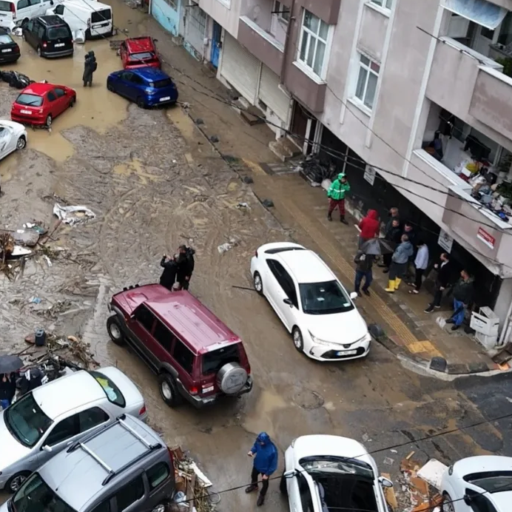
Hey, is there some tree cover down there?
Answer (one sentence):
No, no tree cover is visible.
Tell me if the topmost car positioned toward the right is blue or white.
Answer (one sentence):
From above, the topmost car positioned toward the right appears white.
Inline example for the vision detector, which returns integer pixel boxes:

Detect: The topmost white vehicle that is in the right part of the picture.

[245,243,371,369]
